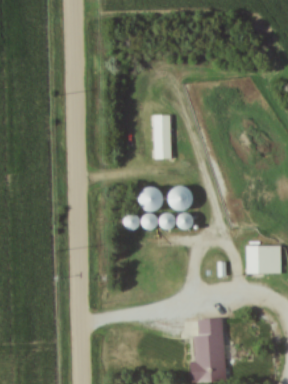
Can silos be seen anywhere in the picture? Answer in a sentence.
Yes, there's a silo here.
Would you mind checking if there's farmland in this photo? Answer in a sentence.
Yes, farmland shows up in the scene.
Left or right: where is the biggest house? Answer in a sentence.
You can find the biggest house on the right side of the picture.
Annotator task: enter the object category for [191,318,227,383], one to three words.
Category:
house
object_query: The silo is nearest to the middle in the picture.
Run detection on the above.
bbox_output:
[138,186,164,212]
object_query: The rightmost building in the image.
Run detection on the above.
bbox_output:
[247,240,282,274]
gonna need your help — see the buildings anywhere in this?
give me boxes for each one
[152,114,172,158]
[247,240,282,274]
[216,260,227,278]
[191,318,227,383]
